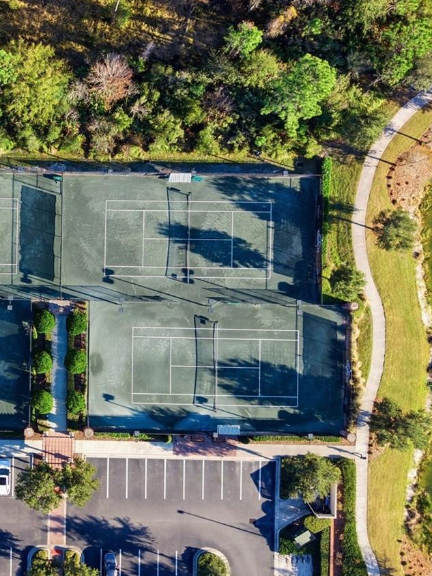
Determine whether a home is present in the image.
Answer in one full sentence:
No, no home is visible in the scene.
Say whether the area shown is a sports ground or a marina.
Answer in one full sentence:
What you see here is a sports ground.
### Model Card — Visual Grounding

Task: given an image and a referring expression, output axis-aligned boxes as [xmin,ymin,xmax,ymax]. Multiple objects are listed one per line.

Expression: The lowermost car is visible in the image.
[103,553,121,576]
